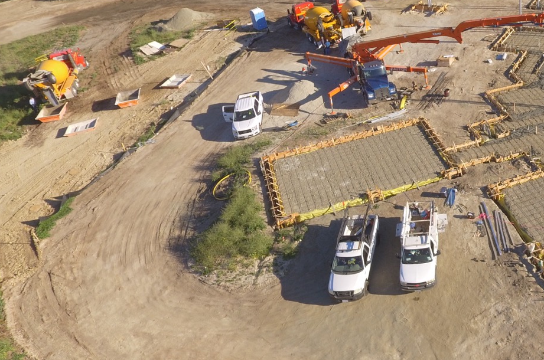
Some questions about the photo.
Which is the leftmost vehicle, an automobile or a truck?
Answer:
truck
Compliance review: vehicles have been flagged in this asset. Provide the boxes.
[329,0,373,43]
[304,16,544,115]
[390,193,447,287]
[19,45,88,107]
[292,3,345,52]
[217,87,266,136]
[322,200,384,296]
